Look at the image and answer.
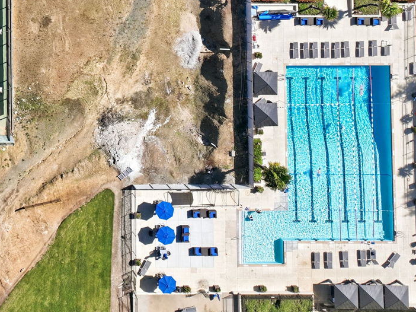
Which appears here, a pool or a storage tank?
pool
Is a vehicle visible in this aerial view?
No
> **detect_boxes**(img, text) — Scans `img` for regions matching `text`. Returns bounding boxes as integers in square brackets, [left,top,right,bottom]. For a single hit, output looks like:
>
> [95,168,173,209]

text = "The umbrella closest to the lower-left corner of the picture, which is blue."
[156,273,177,294]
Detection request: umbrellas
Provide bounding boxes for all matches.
[156,273,177,294]
[154,199,174,219]
[155,224,175,244]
